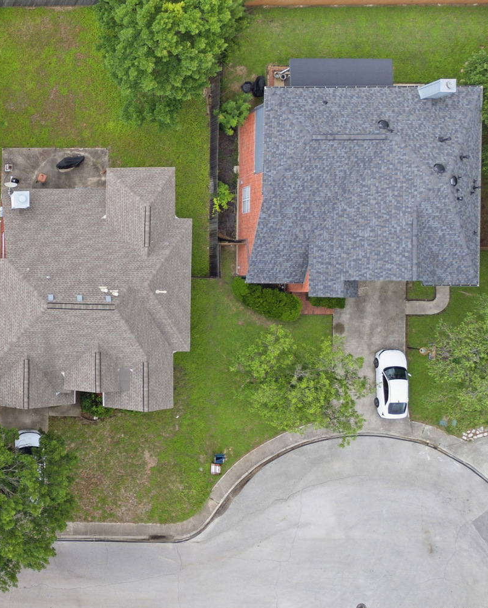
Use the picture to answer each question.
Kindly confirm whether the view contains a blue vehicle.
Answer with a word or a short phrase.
No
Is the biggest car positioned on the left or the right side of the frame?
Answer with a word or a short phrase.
right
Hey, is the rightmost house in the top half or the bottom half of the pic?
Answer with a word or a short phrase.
top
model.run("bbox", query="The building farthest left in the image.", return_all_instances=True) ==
[0,167,193,412]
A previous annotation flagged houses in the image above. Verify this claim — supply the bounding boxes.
[237,78,483,297]
[0,167,193,412]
